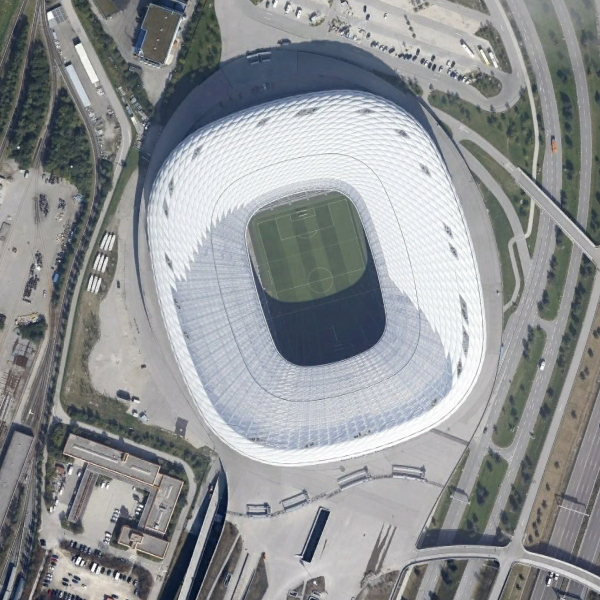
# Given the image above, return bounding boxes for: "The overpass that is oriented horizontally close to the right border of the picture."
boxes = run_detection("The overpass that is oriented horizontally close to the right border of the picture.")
[390,535,600,600]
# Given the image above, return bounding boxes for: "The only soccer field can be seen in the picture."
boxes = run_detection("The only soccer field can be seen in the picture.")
[250,195,381,363]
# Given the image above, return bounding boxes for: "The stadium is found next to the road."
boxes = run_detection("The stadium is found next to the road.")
[148,86,485,469]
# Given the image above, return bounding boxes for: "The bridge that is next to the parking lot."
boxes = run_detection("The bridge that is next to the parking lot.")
[179,473,221,600]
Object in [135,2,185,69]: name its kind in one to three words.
building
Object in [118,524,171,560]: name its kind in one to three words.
building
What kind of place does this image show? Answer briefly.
sports ground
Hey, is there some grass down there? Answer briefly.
Yes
